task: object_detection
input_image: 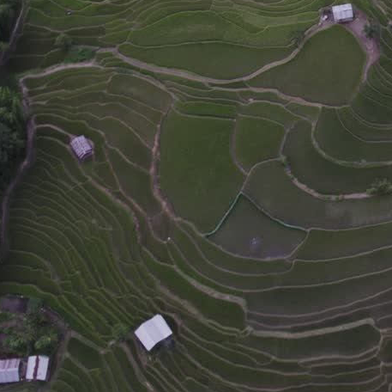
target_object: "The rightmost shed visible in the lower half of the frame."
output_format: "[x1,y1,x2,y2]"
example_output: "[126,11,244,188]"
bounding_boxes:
[135,314,175,353]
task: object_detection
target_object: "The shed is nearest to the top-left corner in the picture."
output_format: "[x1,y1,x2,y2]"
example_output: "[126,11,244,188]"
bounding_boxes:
[70,135,97,160]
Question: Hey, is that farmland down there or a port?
farmland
